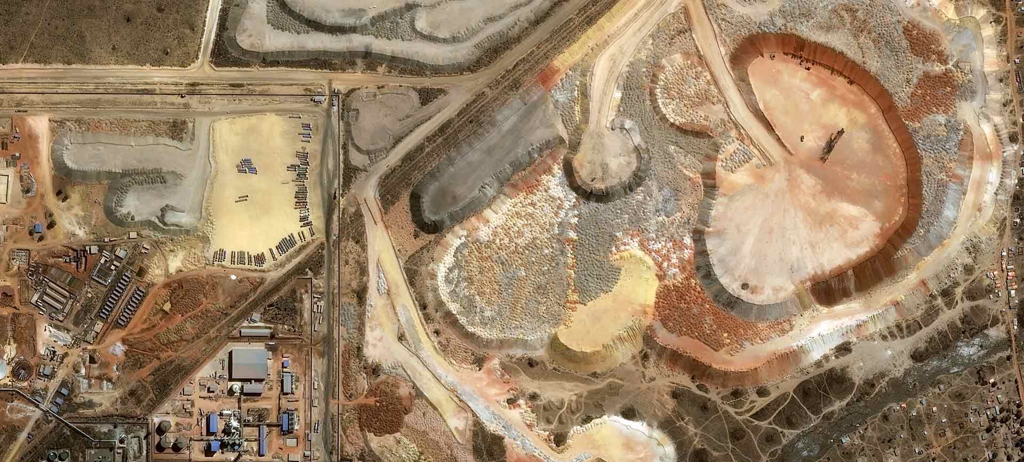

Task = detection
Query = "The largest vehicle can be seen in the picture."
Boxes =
[823,126,848,160]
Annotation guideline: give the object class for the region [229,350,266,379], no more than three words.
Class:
building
